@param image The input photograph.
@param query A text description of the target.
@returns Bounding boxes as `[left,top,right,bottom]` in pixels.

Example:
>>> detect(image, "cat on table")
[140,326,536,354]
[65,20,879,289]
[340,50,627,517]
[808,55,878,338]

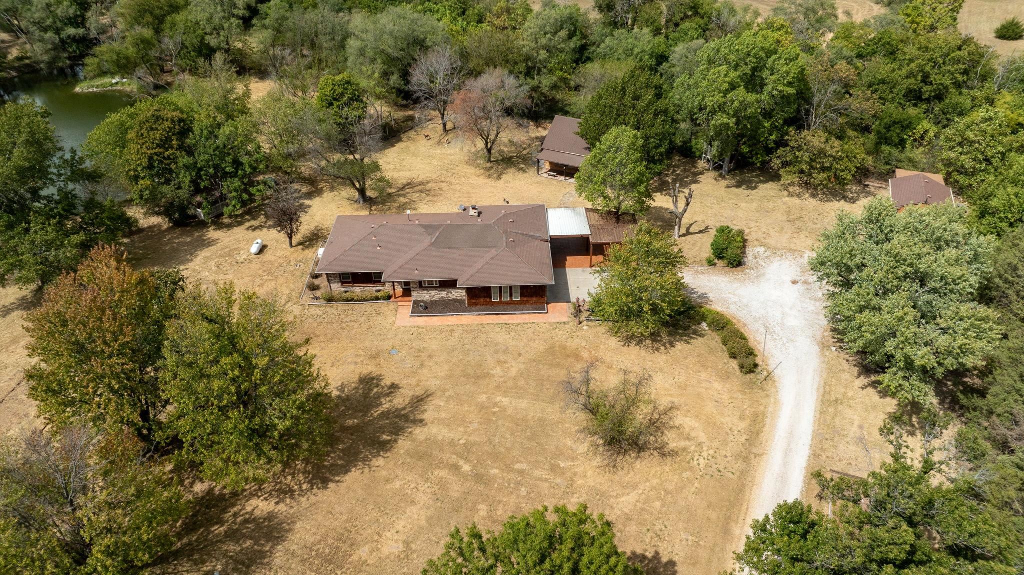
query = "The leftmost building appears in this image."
[315,199,555,306]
